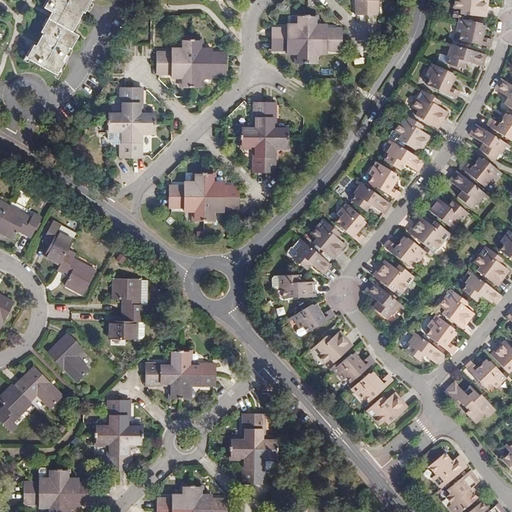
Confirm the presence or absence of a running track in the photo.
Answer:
No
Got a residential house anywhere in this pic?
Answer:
Yes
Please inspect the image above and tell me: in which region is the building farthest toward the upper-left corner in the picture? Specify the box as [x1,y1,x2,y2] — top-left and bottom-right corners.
[24,0,96,76]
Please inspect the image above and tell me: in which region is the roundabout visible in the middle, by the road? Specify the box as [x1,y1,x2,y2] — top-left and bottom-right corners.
[181,248,246,322]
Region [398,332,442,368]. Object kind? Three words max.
house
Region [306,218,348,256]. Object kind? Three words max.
house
